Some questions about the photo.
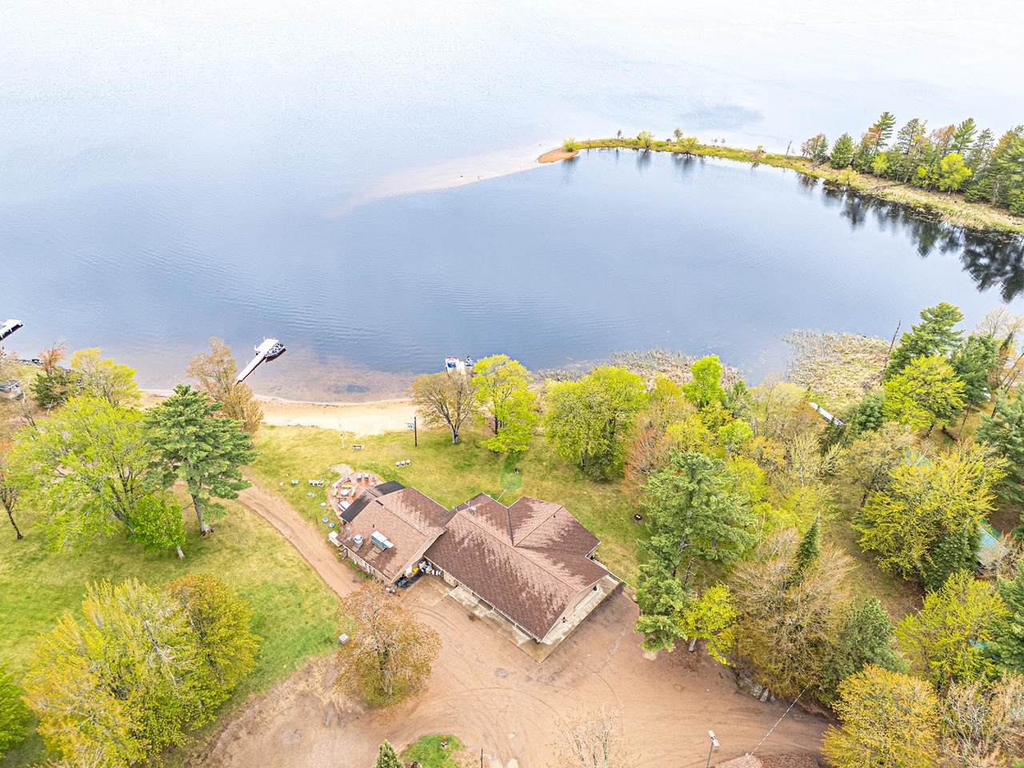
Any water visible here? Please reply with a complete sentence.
Yes, some water is visible.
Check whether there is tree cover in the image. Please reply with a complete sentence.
Yes, there is tree cover in the image.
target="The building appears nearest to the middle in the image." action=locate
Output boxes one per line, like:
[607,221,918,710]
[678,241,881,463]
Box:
[338,479,606,653]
